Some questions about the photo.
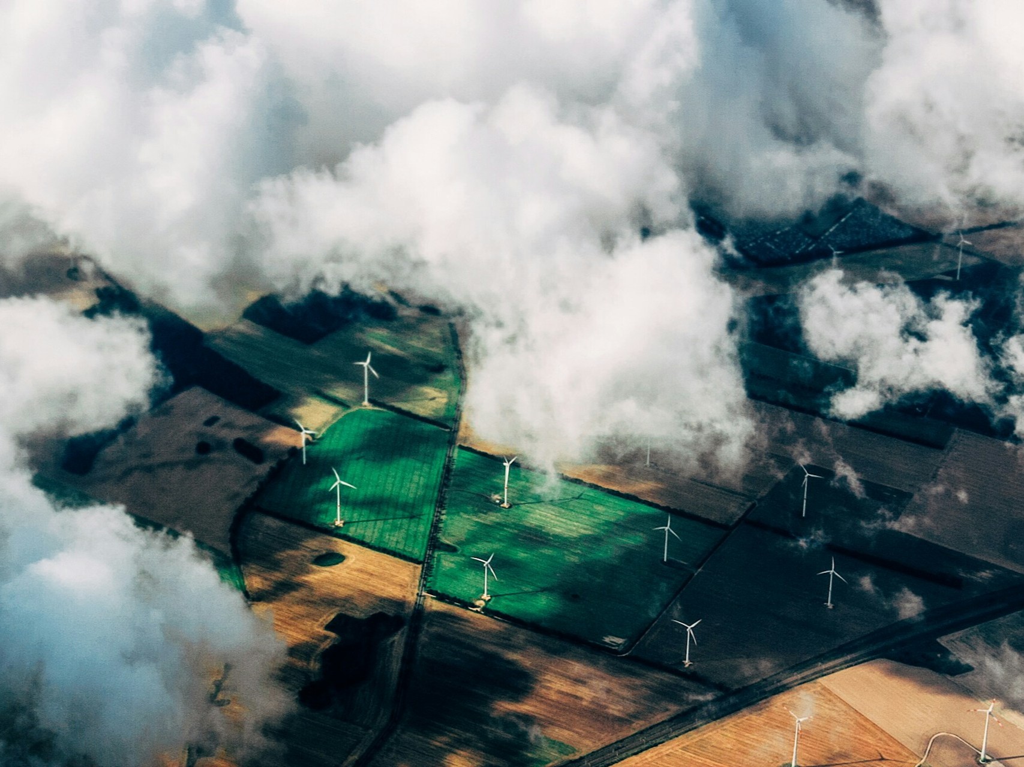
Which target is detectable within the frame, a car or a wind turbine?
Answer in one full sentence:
I can see a wind turbine in this picture.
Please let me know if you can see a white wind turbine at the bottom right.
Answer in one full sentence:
Yes, the scene does show a white wind turbine at the bottom right.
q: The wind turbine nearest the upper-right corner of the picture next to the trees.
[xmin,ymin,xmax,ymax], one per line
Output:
[951,229,971,277]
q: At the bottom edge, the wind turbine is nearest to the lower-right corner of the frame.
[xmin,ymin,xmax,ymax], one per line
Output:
[964,698,1000,758]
